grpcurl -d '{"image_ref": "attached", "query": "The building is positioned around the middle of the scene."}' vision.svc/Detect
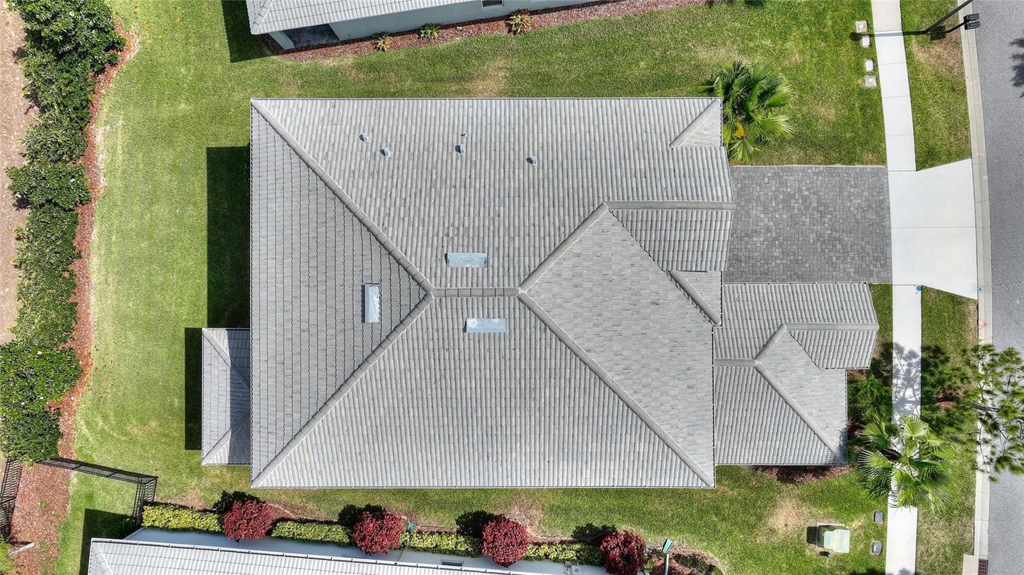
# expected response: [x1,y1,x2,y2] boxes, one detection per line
[202,97,881,488]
